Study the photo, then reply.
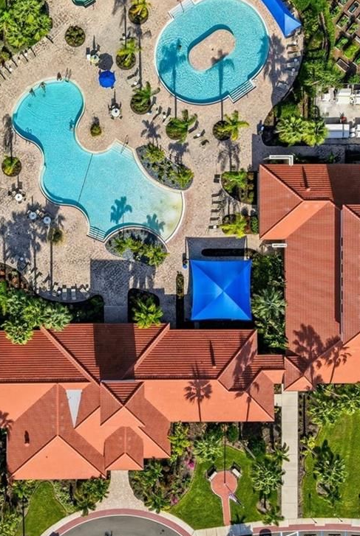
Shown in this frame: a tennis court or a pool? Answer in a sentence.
Of the two, only a pool appears.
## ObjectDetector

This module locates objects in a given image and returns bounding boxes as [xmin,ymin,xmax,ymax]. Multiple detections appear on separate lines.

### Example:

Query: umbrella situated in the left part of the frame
[100,69,117,85]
